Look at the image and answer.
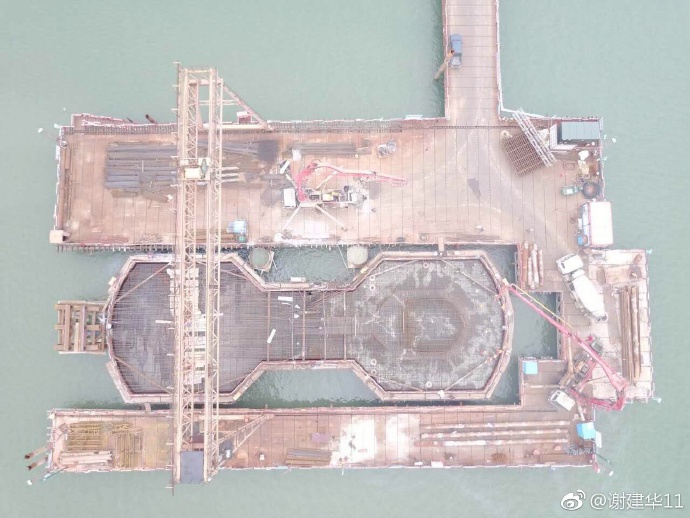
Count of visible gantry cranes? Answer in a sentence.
I count just 1 gantry crane.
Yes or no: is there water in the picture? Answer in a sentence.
Yes, water shows up in the scene.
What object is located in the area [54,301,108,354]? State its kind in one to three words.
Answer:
pier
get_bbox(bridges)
[443,0,502,121]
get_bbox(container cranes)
[168,61,270,495]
